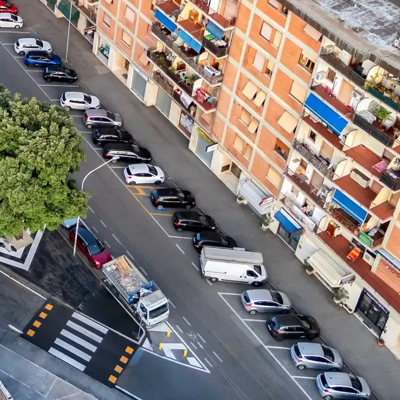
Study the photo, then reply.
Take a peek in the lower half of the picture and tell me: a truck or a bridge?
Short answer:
truck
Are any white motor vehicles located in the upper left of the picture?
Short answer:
Yes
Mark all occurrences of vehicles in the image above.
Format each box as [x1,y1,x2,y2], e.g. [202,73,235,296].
[90,123,137,148]
[0,0,20,16]
[0,13,24,31]
[41,64,80,86]
[13,35,54,56]
[57,88,103,111]
[238,288,295,315]
[264,312,324,344]
[101,259,174,340]
[78,105,128,130]
[195,241,270,288]
[310,371,376,400]
[23,47,64,68]
[68,223,112,271]
[285,341,349,373]
[101,141,153,165]
[167,207,222,234]
[53,205,87,244]
[149,186,197,210]
[122,164,167,186]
